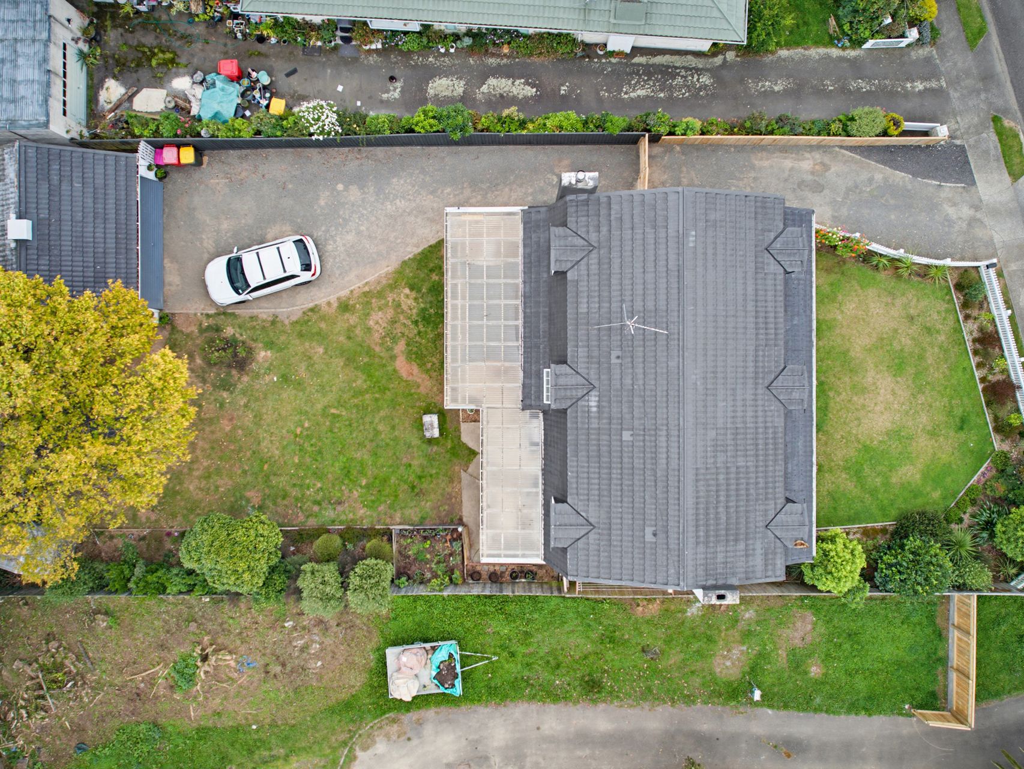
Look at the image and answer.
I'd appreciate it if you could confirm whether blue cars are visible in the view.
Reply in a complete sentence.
No, there's no blue car here.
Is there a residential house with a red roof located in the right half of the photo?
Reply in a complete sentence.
No, there is no residential house with a red roof in the right half of the photo.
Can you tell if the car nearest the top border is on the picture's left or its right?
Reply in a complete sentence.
The car nearest the top border is on the left side of the image.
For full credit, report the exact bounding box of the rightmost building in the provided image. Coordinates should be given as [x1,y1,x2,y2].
[521,168,819,603]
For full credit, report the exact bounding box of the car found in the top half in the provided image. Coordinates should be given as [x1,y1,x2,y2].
[205,237,322,305]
